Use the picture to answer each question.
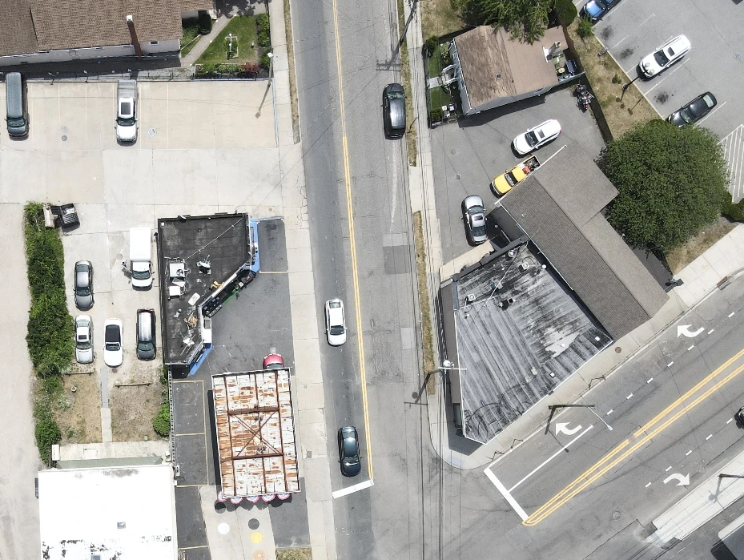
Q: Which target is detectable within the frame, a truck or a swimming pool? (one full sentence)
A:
Visible in the photo is a truck.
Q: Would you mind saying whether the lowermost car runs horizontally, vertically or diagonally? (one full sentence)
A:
From this overhead view, the lowermost car appears to run vertically.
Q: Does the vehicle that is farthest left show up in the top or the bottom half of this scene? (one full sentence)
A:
The top half of the photo is where the vehicle that is farthest left is.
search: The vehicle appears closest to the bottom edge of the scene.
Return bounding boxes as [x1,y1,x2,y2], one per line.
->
[337,426,361,478]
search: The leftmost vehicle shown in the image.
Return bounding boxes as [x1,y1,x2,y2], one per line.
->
[4,70,31,137]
